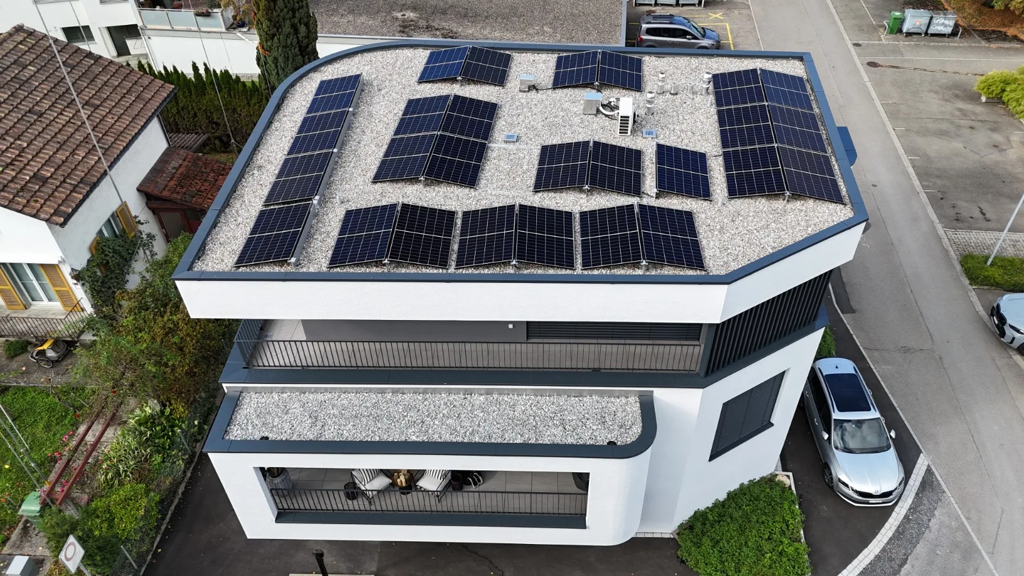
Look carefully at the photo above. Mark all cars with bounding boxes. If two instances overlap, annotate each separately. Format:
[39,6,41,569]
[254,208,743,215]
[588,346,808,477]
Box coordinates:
[800,358,902,506]
[634,13,720,51]
[985,292,1024,351]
